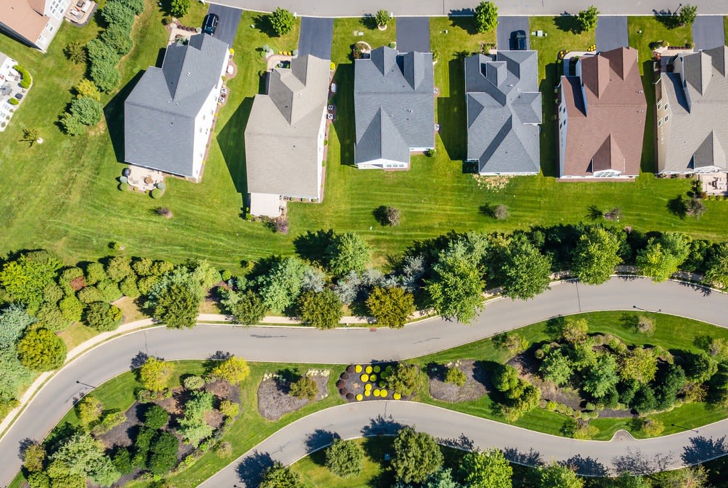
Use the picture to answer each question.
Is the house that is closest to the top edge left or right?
left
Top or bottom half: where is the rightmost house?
top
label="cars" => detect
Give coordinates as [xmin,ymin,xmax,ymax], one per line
[513,27,526,51]
[201,8,219,38]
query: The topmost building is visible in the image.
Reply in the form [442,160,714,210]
[0,0,90,49]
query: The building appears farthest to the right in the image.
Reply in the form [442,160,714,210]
[656,42,728,180]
